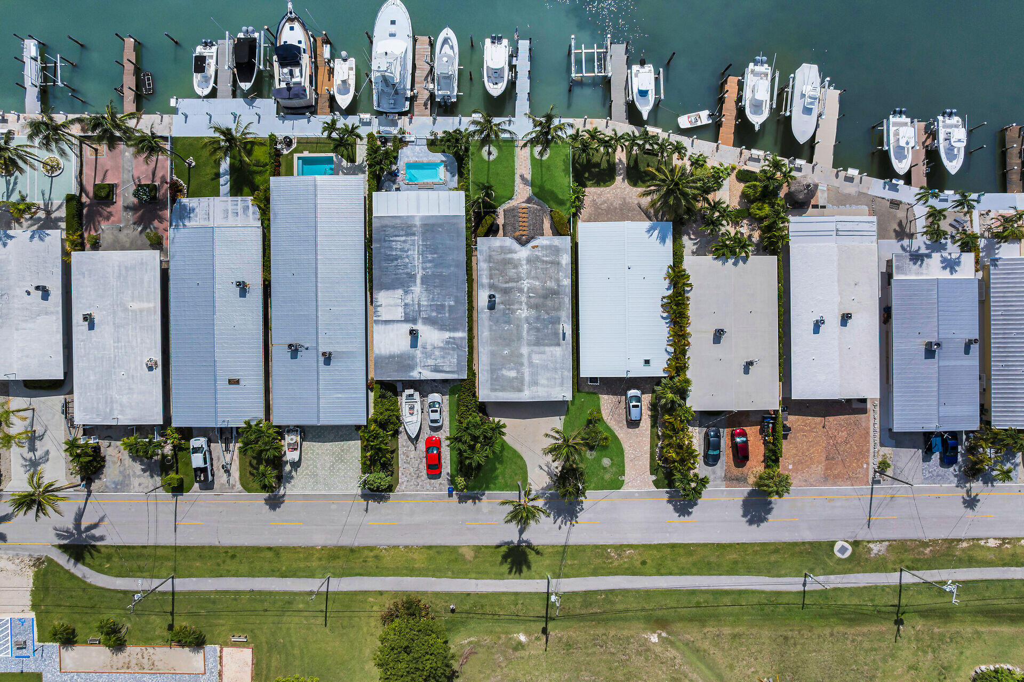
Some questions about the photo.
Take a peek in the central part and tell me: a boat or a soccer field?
boat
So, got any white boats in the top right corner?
Yes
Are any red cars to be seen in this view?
Yes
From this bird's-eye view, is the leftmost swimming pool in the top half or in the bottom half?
top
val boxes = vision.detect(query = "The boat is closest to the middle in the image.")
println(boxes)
[403,383,421,437]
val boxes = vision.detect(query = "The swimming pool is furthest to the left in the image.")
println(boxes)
[294,153,337,176]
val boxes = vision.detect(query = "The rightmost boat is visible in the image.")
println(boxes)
[936,109,992,175]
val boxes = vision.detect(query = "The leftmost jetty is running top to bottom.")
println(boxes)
[24,39,47,114]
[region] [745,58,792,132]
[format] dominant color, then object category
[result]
white boat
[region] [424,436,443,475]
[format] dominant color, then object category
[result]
red car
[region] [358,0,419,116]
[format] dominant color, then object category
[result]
white boat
